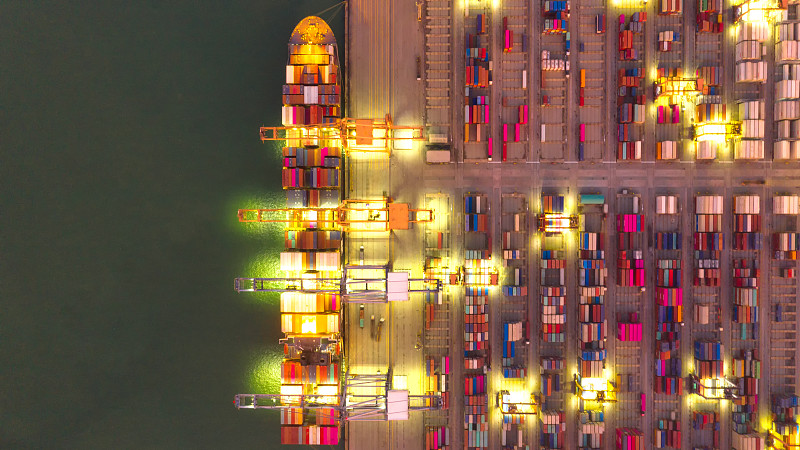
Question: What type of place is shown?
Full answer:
This image shows a port.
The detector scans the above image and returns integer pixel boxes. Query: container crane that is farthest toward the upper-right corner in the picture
[730,0,784,21]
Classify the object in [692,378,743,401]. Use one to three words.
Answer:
container crane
